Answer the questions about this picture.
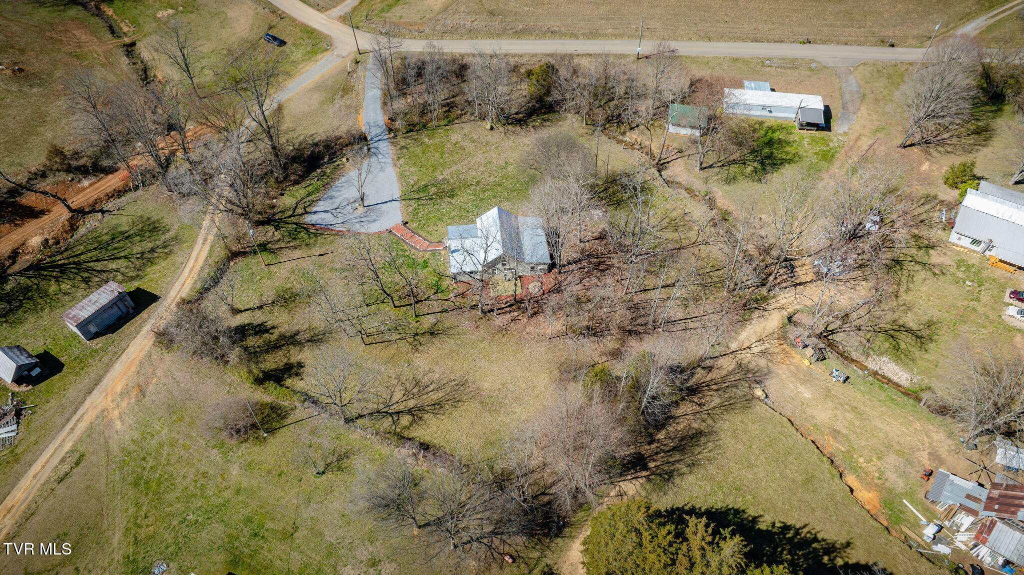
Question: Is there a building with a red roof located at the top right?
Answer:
No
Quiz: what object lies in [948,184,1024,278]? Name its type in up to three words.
house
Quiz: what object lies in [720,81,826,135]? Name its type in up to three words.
house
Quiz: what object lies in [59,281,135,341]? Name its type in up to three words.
barn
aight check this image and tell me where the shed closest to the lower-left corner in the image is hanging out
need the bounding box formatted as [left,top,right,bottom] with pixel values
[0,345,46,391]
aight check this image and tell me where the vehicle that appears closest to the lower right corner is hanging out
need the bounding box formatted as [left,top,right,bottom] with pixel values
[918,467,936,481]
